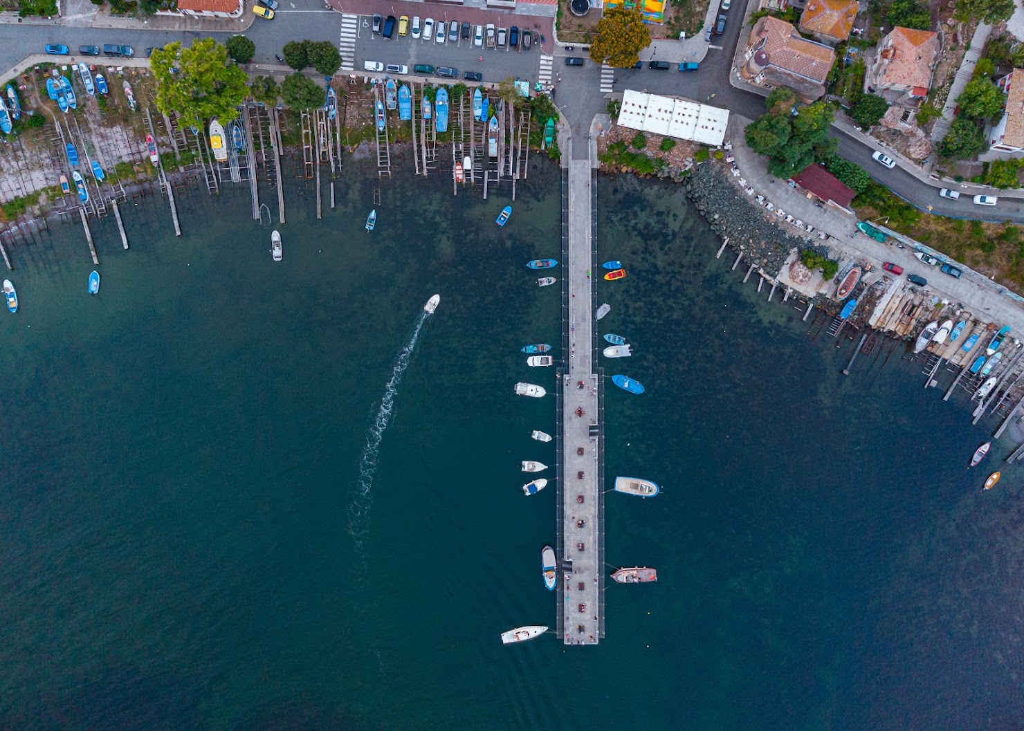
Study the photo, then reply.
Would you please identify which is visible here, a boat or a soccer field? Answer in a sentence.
It is a boat that can be seen here.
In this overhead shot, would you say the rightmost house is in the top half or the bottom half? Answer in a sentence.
The top half of the photo is where the rightmost house is.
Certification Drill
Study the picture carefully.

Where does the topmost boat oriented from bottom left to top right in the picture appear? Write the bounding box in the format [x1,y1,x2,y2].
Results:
[496,205,512,226]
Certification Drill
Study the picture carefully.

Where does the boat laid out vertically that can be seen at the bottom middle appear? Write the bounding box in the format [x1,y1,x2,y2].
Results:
[542,545,556,591]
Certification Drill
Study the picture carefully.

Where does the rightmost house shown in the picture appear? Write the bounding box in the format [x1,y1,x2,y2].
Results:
[986,68,1024,158]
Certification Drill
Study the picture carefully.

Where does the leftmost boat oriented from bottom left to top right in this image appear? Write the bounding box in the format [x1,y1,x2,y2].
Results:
[424,293,440,314]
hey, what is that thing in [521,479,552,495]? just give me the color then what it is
white boat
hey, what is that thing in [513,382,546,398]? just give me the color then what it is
white boat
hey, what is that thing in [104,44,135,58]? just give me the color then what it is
blue car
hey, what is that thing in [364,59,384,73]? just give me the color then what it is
white car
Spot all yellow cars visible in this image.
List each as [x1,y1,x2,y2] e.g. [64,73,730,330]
[398,15,410,38]
[251,3,276,22]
